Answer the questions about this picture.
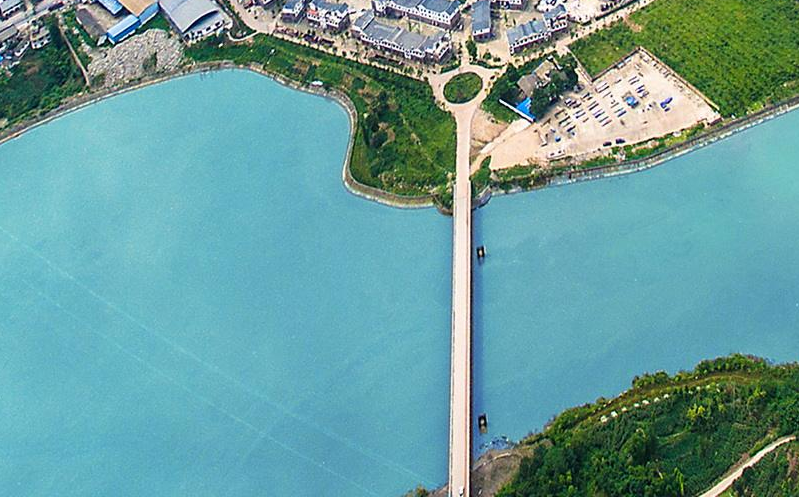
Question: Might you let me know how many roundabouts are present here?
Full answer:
Just 1 roundabout appears in this view.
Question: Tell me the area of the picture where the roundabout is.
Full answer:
Look in the top portion of the view to spot the roundabout.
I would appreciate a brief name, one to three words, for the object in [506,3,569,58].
house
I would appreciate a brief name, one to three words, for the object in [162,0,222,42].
building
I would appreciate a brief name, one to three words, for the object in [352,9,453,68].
house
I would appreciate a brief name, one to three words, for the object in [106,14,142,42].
building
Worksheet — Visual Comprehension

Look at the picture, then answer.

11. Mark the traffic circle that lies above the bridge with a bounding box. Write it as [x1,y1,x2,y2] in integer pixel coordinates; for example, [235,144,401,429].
[432,65,492,123]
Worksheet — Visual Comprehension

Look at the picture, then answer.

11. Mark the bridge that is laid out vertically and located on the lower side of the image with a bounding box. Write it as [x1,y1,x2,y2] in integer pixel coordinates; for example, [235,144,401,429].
[449,171,472,497]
